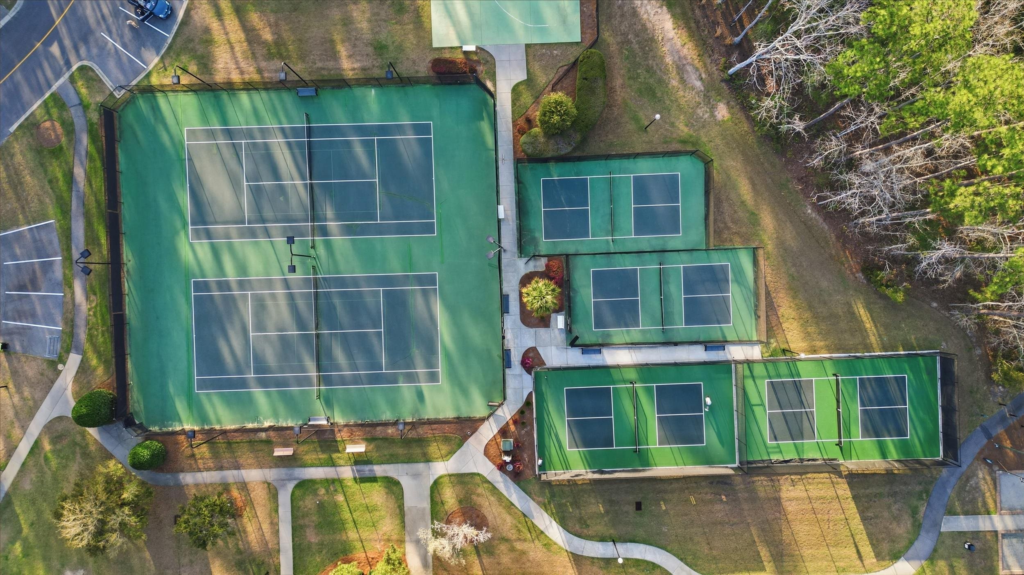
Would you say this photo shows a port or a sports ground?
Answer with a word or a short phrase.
sports ground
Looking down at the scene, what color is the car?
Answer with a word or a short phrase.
blue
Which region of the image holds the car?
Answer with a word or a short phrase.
top left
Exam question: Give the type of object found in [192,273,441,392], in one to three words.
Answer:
tennis court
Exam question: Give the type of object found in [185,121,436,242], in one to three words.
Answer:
tennis court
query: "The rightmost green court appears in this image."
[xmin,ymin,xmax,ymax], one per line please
[734,352,941,465]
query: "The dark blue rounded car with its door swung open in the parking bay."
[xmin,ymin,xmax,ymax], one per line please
[131,0,172,24]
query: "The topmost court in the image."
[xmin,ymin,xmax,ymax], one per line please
[431,0,581,47]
